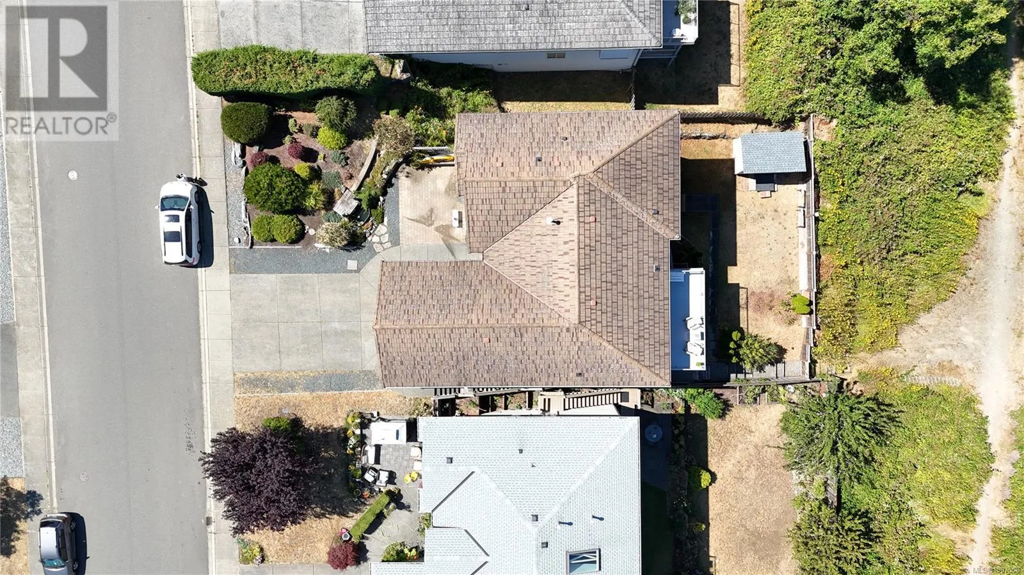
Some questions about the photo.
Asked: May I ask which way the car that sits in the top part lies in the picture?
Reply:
vertically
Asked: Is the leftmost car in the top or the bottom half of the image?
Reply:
bottom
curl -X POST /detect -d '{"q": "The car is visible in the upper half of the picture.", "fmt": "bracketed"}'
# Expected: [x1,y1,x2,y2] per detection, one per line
[158,184,202,267]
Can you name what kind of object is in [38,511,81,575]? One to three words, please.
car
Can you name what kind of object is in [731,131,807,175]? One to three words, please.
shed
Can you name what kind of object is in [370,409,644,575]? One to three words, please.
house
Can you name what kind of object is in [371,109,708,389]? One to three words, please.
house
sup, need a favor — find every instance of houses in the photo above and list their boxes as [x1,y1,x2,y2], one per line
[370,409,644,575]
[371,109,708,389]
[362,0,700,75]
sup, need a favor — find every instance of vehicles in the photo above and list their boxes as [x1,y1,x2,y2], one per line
[158,184,202,267]
[38,511,81,575]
